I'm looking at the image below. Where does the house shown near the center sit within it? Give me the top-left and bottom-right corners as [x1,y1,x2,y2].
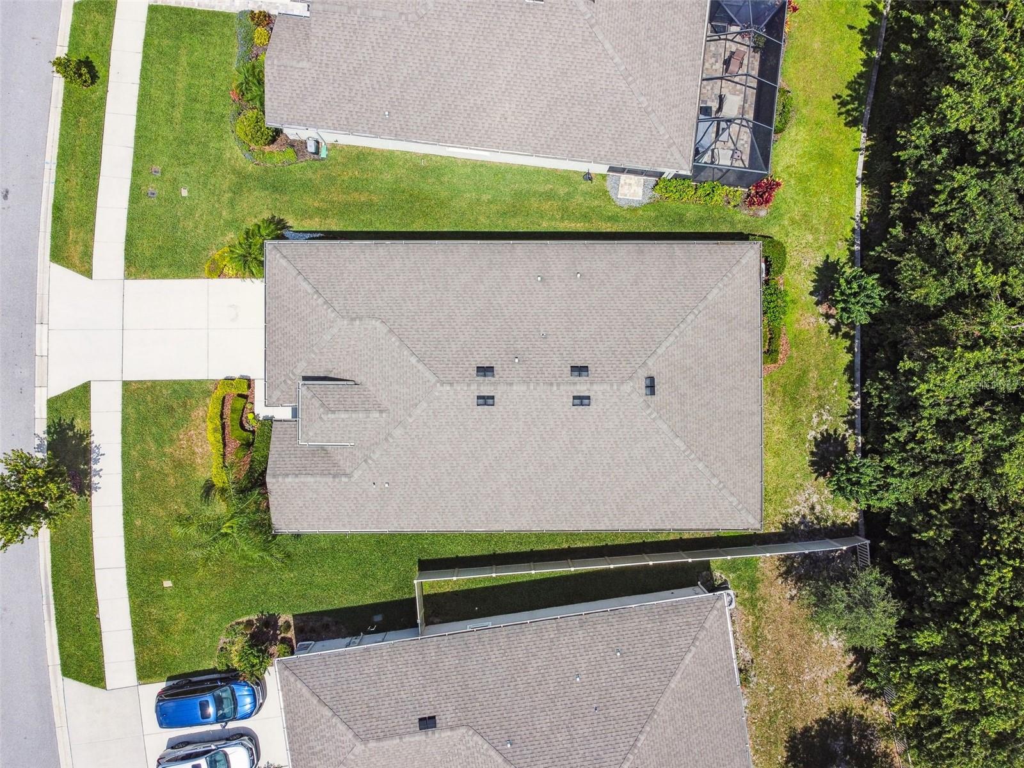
[262,238,764,534]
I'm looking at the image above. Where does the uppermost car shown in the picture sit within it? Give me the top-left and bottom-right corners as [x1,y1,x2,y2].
[159,672,261,730]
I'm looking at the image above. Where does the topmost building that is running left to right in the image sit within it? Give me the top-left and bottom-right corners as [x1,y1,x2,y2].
[263,0,715,181]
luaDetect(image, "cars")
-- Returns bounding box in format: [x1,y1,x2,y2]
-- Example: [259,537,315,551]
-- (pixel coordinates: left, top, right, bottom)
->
[155,737,257,768]
[159,672,261,730]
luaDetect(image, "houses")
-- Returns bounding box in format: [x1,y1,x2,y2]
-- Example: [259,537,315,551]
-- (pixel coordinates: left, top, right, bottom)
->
[263,0,715,181]
[262,238,764,534]
[272,578,755,768]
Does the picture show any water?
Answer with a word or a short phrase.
No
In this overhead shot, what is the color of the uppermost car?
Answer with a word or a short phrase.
blue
